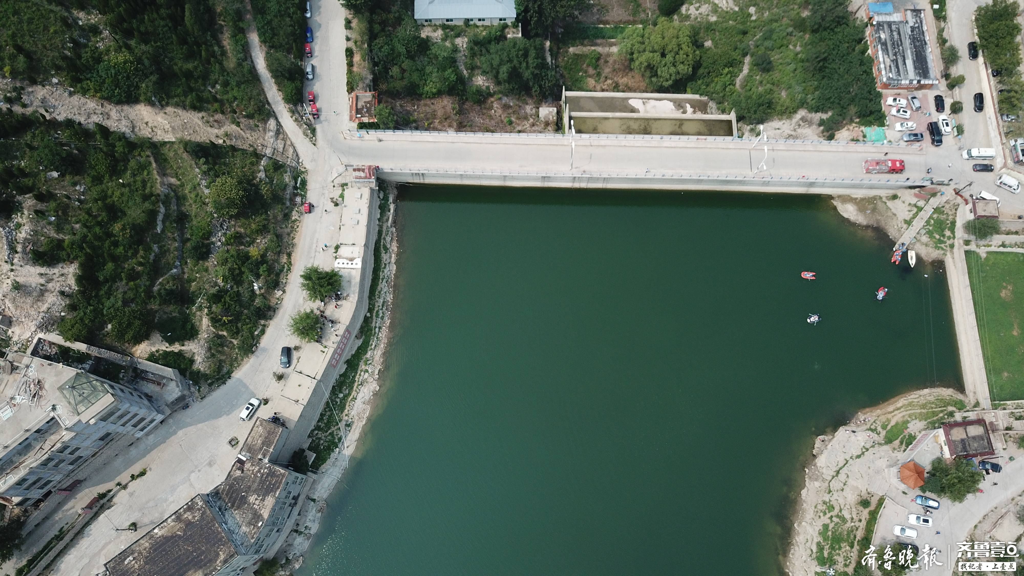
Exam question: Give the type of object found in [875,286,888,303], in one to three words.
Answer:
boat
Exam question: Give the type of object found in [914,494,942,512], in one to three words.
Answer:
car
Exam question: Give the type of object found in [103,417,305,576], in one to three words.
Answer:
building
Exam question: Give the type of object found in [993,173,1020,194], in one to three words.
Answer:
vehicle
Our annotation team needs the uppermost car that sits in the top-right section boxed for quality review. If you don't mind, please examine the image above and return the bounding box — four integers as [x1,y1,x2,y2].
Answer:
[966,42,979,61]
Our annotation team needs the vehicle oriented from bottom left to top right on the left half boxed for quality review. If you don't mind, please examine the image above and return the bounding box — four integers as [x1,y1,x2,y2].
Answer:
[239,398,262,422]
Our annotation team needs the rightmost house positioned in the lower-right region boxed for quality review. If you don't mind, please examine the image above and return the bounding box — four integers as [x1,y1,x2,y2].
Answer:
[939,420,994,459]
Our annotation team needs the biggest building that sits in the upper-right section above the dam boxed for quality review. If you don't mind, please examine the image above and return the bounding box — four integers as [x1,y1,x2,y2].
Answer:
[871,9,939,90]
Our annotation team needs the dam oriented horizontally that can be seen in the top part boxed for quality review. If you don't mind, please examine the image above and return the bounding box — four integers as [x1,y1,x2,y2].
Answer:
[368,130,932,198]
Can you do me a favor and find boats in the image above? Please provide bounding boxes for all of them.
[800,272,818,279]
[891,250,902,266]
[875,286,888,303]
[806,313,824,323]
[908,250,916,268]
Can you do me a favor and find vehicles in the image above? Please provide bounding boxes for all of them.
[279,346,292,370]
[906,95,922,113]
[303,198,313,217]
[304,41,314,59]
[894,122,917,132]
[914,494,942,512]
[902,132,925,142]
[889,107,912,121]
[307,89,316,107]
[239,398,262,422]
[927,122,942,144]
[896,541,922,557]
[305,25,314,44]
[971,163,994,173]
[976,458,1004,475]
[891,524,919,541]
[962,147,997,161]
[973,93,985,113]
[906,513,934,527]
[1007,137,1024,148]
[885,96,908,109]
[310,102,320,120]
[966,42,979,61]
[303,0,313,19]
[993,173,1020,194]
[305,62,315,82]
[977,188,1000,208]
[933,95,945,114]
[937,116,952,136]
